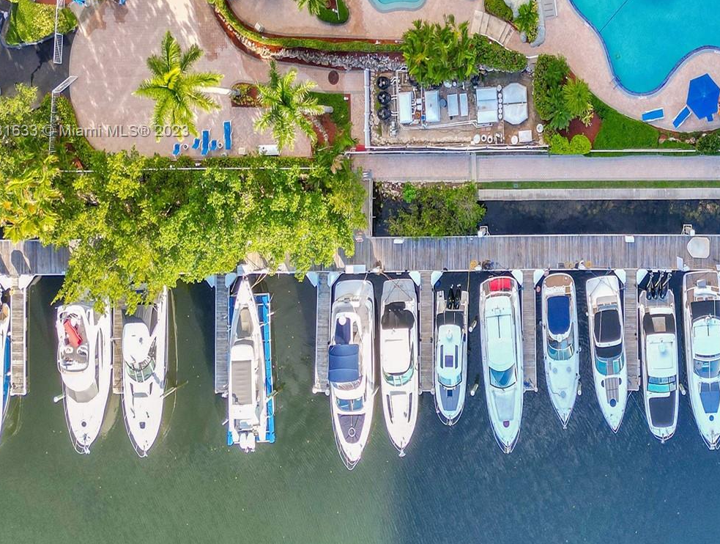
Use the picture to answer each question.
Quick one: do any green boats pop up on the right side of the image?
No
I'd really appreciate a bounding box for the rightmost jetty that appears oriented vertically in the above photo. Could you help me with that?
[623,276,640,393]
